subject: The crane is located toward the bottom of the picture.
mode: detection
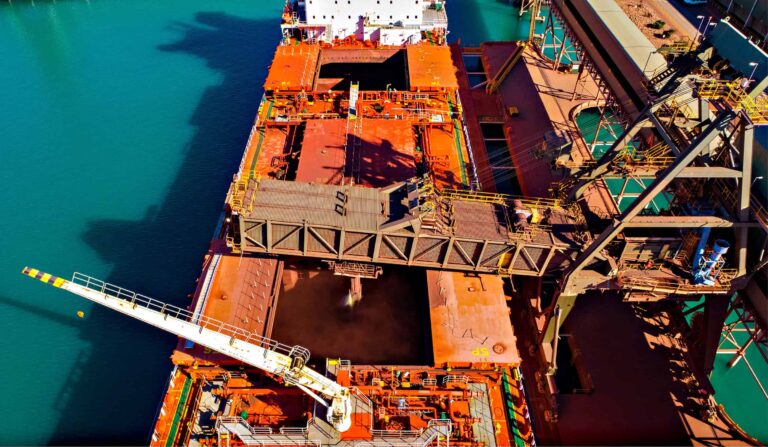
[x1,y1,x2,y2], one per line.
[20,266,372,442]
